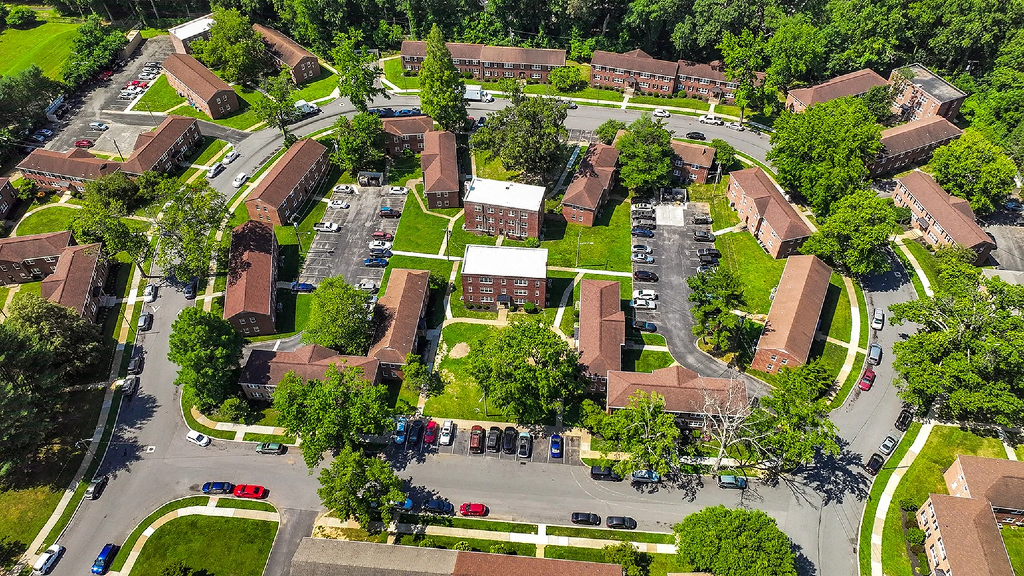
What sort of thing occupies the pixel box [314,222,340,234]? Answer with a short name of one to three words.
vehicle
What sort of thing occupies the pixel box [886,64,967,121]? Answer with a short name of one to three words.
building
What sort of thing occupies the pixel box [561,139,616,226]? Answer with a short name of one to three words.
house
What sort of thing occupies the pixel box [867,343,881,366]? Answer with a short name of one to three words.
car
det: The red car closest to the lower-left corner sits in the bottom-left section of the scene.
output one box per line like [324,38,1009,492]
[235,485,267,499]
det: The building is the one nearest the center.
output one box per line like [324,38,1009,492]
[461,244,549,315]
